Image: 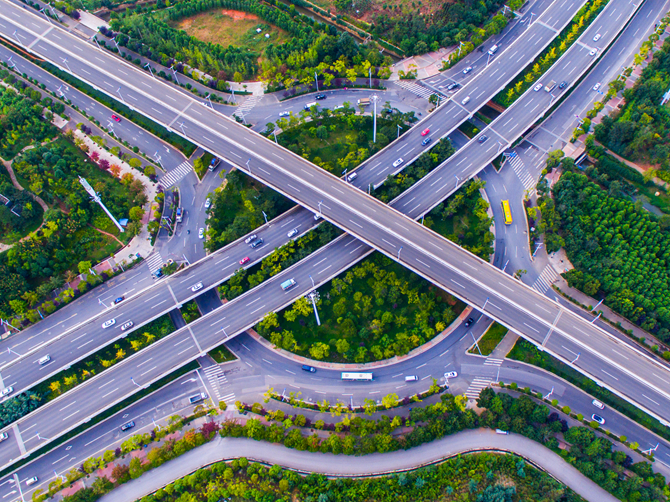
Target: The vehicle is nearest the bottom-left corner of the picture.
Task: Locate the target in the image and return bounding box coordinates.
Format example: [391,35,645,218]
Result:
[22,475,39,488]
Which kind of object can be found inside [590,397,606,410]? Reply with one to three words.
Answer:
vehicle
